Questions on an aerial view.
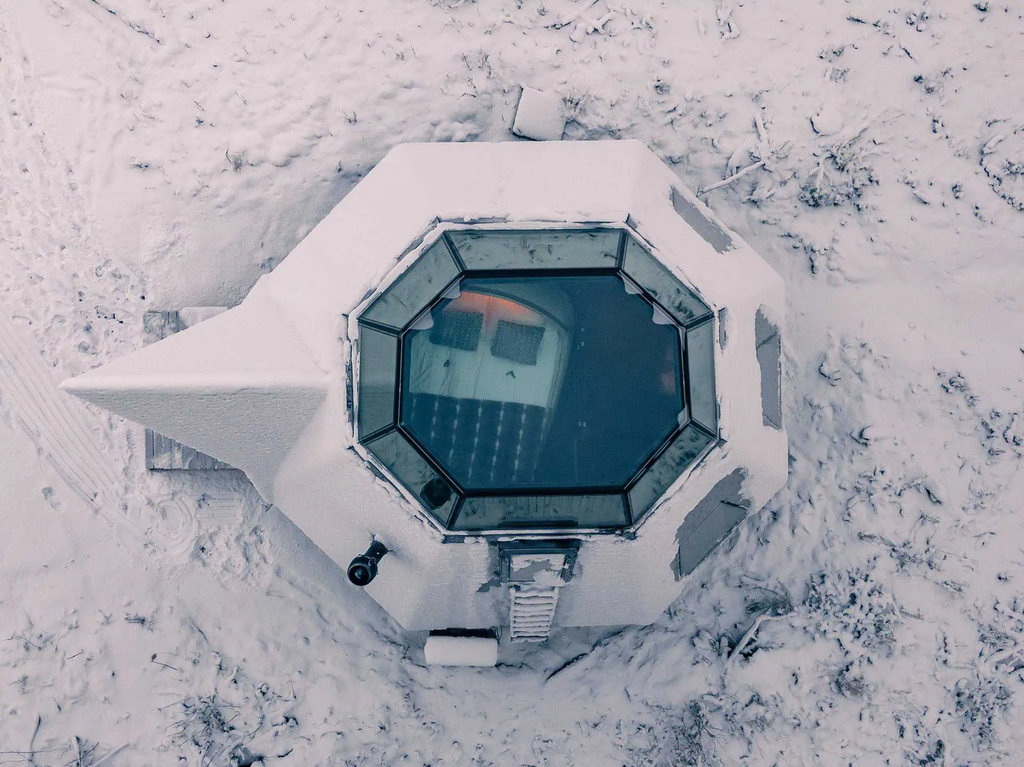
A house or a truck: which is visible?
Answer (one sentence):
Visible in the photo is a house.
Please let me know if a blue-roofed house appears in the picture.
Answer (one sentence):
No, the photo shows no blue-roofed house.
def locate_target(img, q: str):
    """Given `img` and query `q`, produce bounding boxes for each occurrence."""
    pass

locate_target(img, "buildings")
[59,141,787,627]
